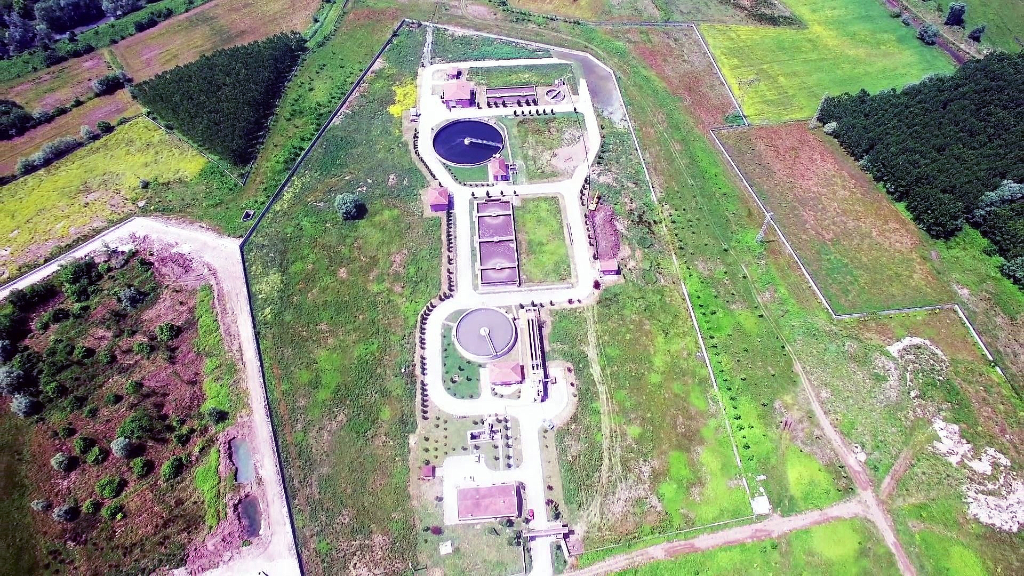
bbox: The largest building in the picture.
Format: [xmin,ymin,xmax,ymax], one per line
[458,481,517,525]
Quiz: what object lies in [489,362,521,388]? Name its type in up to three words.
house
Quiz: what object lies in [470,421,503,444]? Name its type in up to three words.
building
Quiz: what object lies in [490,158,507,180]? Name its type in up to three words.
building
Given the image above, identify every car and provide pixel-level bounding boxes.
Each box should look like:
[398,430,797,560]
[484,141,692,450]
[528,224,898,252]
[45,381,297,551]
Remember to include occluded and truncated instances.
[543,419,555,430]
[528,509,534,520]
[474,453,480,465]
